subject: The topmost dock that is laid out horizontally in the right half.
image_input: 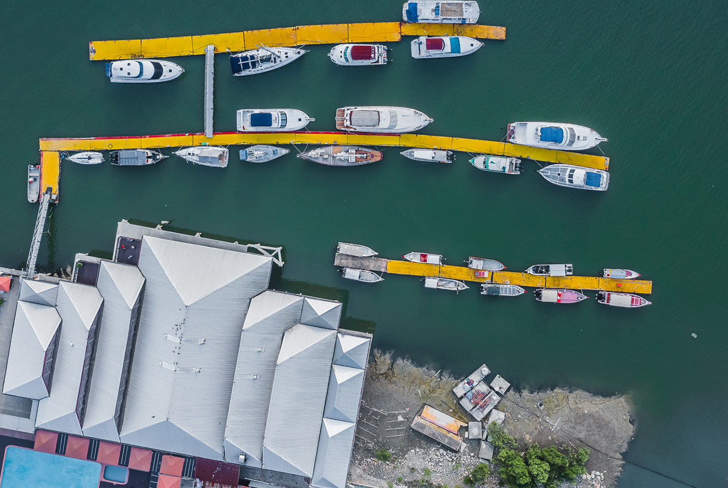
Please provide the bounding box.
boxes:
[402,22,506,40]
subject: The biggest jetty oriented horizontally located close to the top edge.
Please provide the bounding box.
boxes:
[90,22,401,61]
